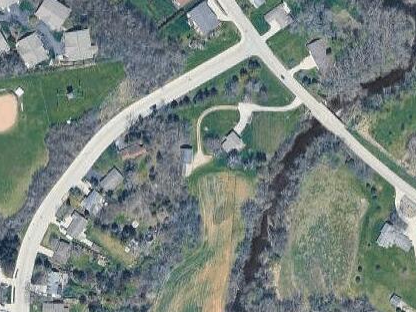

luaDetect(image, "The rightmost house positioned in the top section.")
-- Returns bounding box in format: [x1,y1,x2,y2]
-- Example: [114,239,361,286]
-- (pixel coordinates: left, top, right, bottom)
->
[307,39,334,72]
